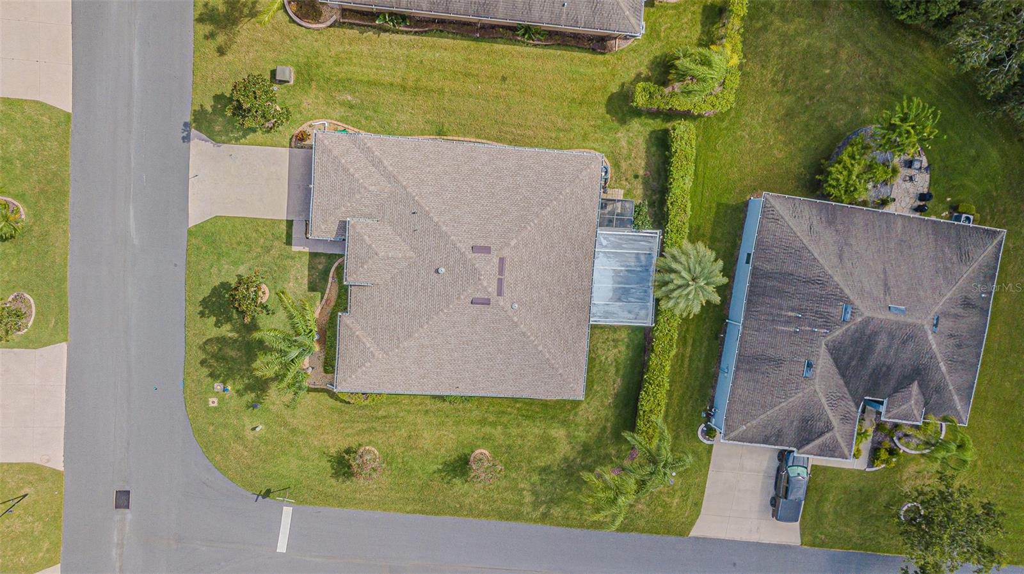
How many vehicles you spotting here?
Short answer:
1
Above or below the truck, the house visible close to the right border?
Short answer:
above it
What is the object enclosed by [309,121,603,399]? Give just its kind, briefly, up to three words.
house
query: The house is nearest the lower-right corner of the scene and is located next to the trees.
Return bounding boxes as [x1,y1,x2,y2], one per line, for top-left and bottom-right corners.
[711,190,1006,461]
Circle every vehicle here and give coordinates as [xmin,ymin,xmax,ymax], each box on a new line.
[770,448,810,523]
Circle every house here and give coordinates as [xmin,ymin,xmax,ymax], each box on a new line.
[320,0,645,50]
[309,121,603,399]
[711,190,1006,461]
